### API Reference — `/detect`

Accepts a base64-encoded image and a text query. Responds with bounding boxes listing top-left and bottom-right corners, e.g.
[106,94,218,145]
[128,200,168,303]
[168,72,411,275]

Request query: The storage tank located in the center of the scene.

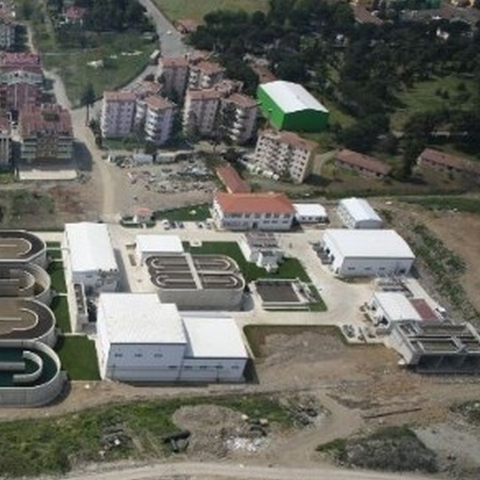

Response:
[142,246,247,310]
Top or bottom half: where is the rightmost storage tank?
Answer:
bottom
